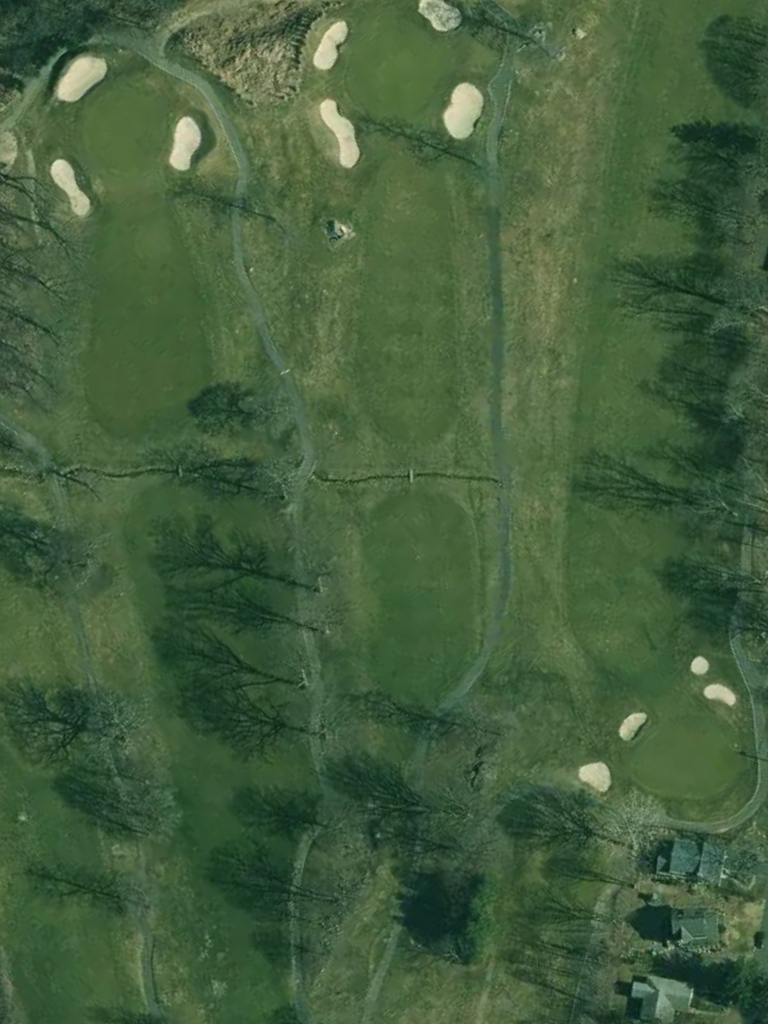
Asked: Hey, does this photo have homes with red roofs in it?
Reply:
No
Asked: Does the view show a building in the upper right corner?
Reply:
No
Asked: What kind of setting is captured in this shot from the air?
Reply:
golf course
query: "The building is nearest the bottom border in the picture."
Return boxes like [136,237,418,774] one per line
[625,975,693,1024]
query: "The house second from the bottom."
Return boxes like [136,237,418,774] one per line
[670,905,723,952]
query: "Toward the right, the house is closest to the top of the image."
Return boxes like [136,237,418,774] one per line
[658,839,726,884]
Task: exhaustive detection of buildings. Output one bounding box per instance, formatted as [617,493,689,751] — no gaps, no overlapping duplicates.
[670,905,723,952]
[658,839,726,884]
[625,975,693,1024]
